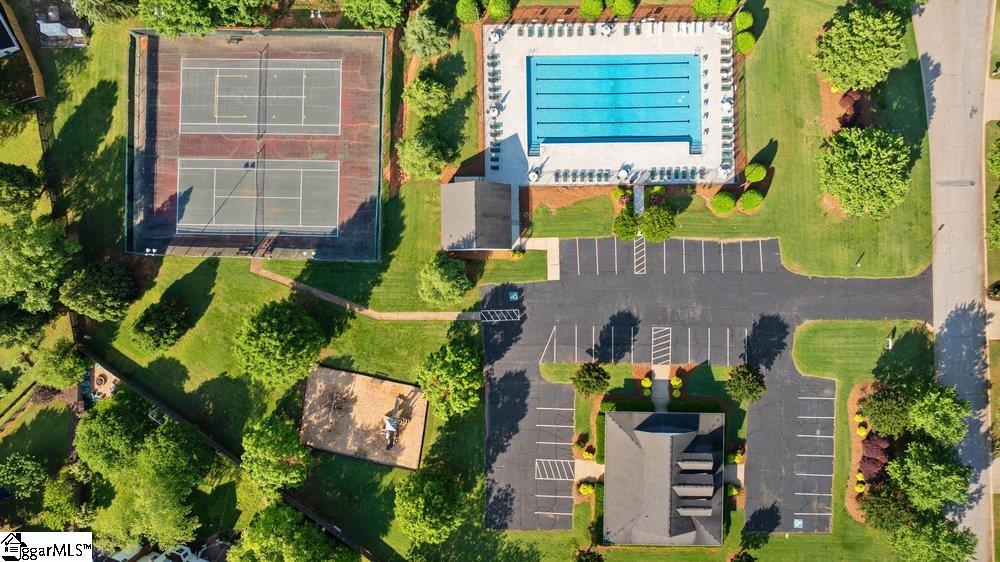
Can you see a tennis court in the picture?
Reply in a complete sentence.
Yes, a tennis court is visible in the scene.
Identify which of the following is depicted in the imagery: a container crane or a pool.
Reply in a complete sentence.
Visible in the photo is a pool.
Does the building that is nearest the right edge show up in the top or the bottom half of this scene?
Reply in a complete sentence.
The building that is nearest the right edge is in the bottom half of the image.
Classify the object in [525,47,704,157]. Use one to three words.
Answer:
swimming pool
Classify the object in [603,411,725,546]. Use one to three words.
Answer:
building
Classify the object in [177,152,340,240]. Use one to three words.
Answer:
tennis court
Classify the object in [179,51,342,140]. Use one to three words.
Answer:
tennis court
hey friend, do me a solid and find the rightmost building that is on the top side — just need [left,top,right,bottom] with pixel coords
[441,181,512,250]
